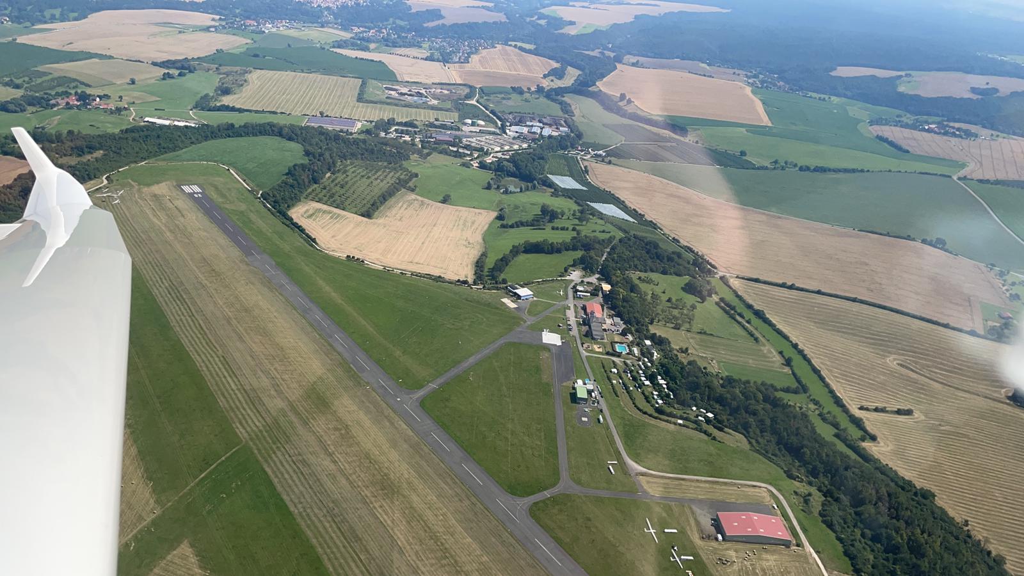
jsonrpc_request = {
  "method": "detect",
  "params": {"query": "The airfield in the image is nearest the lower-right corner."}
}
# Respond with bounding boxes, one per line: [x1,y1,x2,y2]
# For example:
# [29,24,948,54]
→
[574,310,846,576]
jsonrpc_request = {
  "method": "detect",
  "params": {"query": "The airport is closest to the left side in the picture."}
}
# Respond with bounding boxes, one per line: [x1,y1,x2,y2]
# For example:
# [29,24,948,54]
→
[88,194,295,576]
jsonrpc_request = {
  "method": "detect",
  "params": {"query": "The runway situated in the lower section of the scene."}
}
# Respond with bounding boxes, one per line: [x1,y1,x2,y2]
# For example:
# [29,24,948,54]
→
[178,183,588,576]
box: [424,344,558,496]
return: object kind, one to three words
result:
airport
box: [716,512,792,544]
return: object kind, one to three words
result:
hangar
